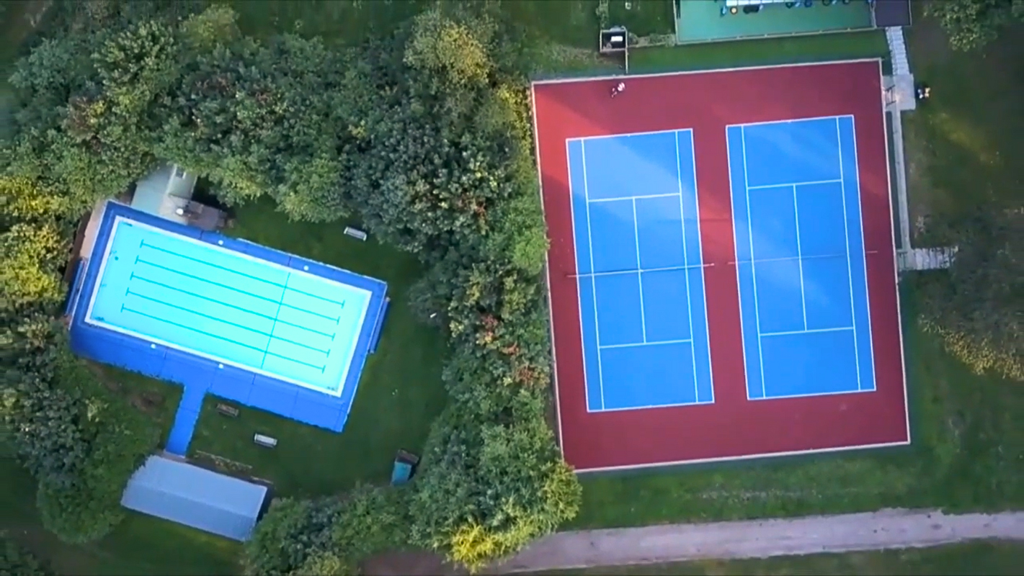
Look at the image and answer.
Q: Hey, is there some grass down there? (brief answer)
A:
Yes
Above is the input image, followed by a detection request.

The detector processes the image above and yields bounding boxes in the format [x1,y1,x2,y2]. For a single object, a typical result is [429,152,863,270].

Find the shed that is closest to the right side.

[393,448,420,485]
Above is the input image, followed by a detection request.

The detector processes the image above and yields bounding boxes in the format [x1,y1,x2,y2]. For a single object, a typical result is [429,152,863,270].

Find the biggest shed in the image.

[121,454,269,542]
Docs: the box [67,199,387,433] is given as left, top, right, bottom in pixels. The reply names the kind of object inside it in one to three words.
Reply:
swimming pool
